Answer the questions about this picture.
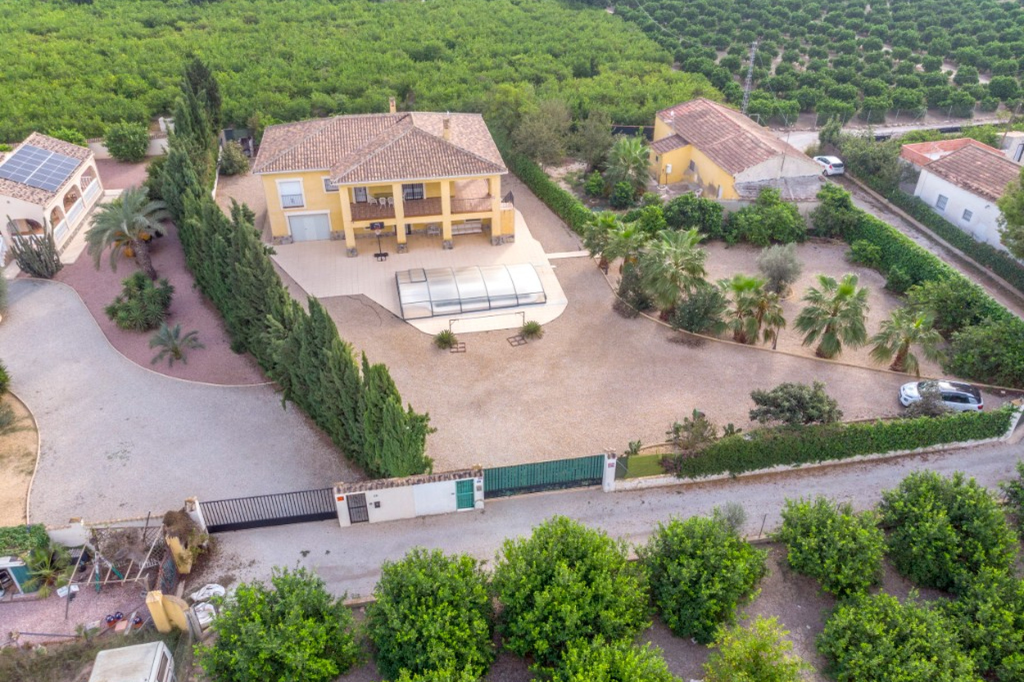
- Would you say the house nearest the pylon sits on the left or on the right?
right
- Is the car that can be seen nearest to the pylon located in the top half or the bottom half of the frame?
top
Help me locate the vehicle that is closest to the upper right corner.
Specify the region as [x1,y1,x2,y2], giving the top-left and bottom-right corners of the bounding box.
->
[814,155,849,175]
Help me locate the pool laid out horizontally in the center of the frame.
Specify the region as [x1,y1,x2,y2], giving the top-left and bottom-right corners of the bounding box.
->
[426,297,537,311]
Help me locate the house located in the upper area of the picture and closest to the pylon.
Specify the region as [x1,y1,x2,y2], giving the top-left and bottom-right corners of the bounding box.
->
[657,95,819,193]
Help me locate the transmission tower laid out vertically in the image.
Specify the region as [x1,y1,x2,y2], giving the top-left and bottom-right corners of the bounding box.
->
[739,39,760,118]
